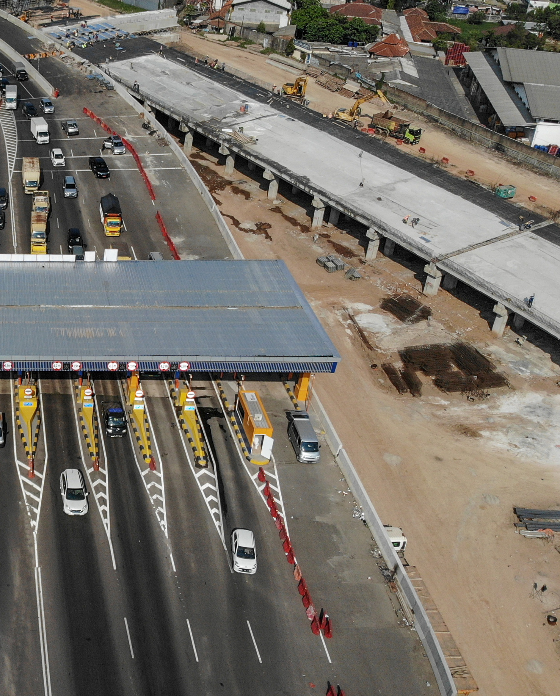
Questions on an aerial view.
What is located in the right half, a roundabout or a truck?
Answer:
truck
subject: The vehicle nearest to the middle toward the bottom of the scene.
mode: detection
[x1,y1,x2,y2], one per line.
[288,410,322,461]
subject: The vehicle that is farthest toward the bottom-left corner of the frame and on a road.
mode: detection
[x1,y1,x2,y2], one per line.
[59,469,91,517]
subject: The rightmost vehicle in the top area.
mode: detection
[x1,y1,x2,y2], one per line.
[373,109,430,143]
